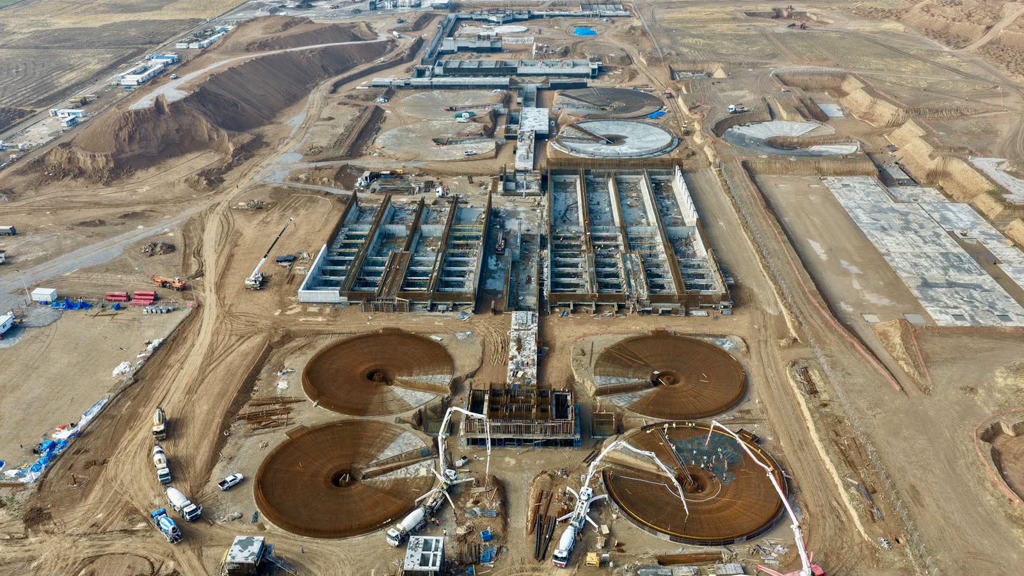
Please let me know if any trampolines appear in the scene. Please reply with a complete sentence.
No, the frame has no trampoline in it.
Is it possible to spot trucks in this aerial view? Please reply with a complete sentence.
Yes, a truck appears in the view.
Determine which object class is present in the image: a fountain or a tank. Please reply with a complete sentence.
Looking from above, you can make out a tank.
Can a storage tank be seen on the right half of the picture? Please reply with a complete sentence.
Yes, a storage tank shows up on the right half of the picture.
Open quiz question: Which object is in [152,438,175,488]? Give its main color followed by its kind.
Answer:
white truck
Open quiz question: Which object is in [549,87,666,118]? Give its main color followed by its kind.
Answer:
gray storage tank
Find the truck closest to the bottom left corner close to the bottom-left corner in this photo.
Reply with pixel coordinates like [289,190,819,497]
[146,501,183,548]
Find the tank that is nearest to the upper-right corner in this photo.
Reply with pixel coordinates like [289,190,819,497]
[722,121,845,154]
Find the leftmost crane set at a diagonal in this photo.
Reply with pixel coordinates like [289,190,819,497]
[237,220,296,295]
